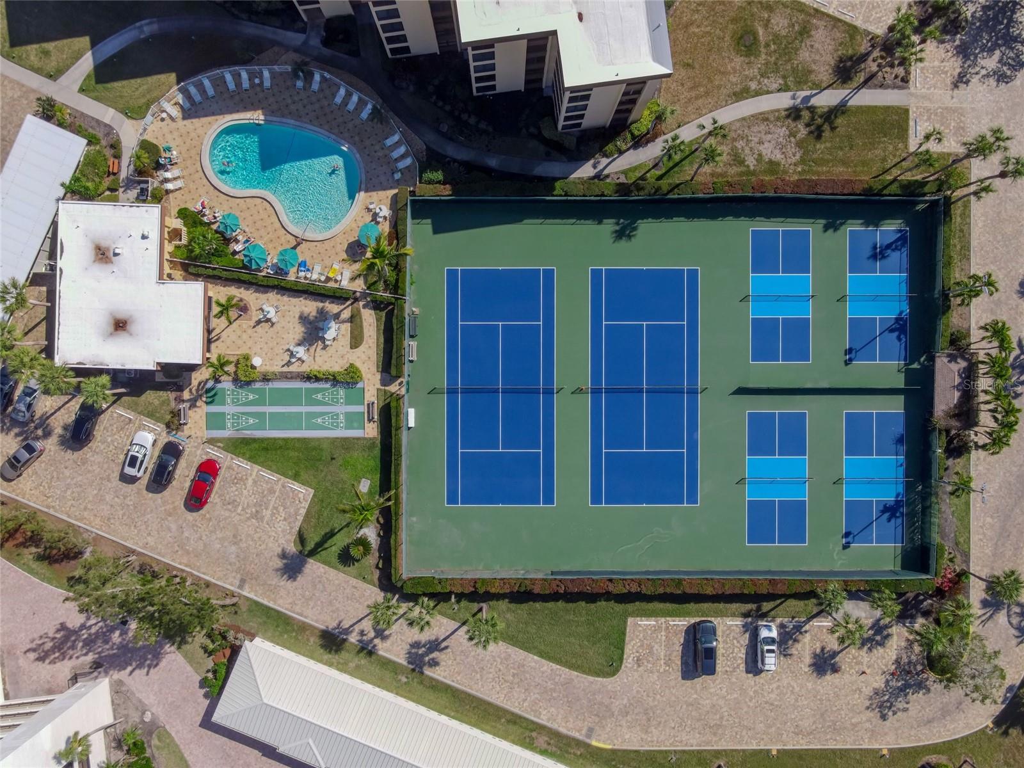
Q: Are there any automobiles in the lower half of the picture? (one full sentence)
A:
Yes, the scene does show an automobile in the lower half of the picture.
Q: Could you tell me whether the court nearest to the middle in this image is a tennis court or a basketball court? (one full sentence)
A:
It turns out the court nearest to the middle is a tennis court.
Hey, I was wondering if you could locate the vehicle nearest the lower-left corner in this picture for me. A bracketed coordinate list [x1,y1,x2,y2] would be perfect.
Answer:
[1,440,46,480]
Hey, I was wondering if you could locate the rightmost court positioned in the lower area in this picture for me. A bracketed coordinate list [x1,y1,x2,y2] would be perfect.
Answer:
[839,411,915,546]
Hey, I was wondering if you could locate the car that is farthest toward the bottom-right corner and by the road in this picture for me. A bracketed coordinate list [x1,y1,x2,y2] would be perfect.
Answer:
[755,624,779,672]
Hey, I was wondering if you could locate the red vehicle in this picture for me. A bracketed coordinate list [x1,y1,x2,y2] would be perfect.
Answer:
[185,460,220,511]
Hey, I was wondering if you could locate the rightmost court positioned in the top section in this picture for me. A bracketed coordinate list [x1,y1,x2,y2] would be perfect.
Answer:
[843,228,919,363]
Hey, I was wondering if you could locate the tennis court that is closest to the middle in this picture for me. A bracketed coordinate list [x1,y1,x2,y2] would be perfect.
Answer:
[436,268,565,506]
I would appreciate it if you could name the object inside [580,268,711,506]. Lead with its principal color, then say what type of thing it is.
blue tennis court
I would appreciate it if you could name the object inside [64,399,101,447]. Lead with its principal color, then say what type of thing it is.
black car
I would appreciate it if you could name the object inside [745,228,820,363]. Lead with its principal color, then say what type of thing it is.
blue sports court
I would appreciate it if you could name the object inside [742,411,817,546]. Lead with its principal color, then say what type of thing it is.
blue sports court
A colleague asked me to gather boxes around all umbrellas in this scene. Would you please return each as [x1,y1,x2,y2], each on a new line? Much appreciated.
[245,245,267,268]
[360,224,381,245]
[155,145,171,157]
[219,214,242,236]
[278,248,299,270]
